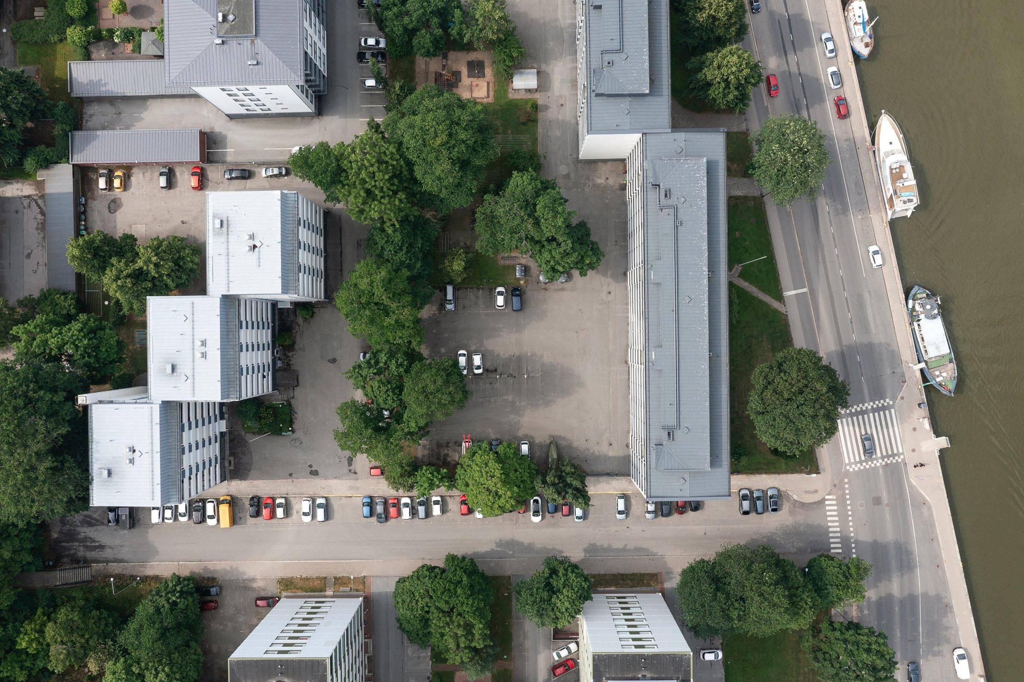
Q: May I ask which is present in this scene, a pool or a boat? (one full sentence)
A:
The one in the frame is a boat.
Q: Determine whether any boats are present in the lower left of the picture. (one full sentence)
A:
No, no boat appears in the lower left of the picture.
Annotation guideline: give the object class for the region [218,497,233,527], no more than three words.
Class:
vehicle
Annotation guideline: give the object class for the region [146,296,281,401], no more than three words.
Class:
building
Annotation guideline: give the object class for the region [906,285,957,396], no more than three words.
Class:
boat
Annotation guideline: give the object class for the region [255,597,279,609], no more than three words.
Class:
vehicle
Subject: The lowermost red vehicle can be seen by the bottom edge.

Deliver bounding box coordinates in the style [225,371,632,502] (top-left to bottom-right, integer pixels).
[551,658,575,677]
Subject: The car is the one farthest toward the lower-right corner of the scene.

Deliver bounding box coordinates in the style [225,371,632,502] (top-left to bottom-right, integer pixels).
[952,647,973,681]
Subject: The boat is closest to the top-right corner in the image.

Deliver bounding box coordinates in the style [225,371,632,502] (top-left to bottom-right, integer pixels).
[844,0,882,60]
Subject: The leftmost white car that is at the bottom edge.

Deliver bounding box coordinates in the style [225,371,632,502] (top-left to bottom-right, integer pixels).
[553,642,579,660]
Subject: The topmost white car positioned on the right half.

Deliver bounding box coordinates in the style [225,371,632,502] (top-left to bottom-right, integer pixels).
[820,32,834,58]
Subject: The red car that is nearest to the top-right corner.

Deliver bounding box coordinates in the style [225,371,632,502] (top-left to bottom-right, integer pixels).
[834,95,848,119]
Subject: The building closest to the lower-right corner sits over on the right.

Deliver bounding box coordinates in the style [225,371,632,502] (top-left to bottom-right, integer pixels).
[578,595,691,682]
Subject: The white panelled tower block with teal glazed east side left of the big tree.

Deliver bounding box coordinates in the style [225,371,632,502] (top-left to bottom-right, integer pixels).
[228,599,363,682]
